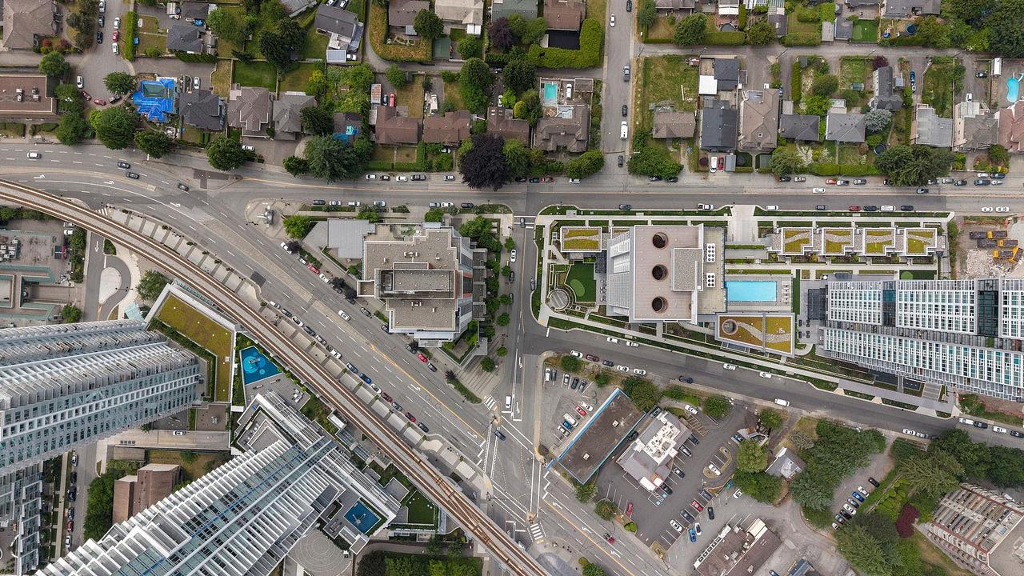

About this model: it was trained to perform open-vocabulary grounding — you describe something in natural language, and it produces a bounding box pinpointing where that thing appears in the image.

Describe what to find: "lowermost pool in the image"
[342,500,382,534]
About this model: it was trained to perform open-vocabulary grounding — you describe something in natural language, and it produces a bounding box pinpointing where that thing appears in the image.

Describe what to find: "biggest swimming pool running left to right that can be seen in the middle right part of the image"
[725,280,777,302]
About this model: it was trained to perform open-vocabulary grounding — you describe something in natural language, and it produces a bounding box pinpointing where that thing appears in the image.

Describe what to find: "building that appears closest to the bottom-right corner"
[929,484,1024,576]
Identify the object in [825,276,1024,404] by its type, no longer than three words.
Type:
building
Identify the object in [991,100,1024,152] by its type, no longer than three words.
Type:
house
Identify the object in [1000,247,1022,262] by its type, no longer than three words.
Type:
work vehicle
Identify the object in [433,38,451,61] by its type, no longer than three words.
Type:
shed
